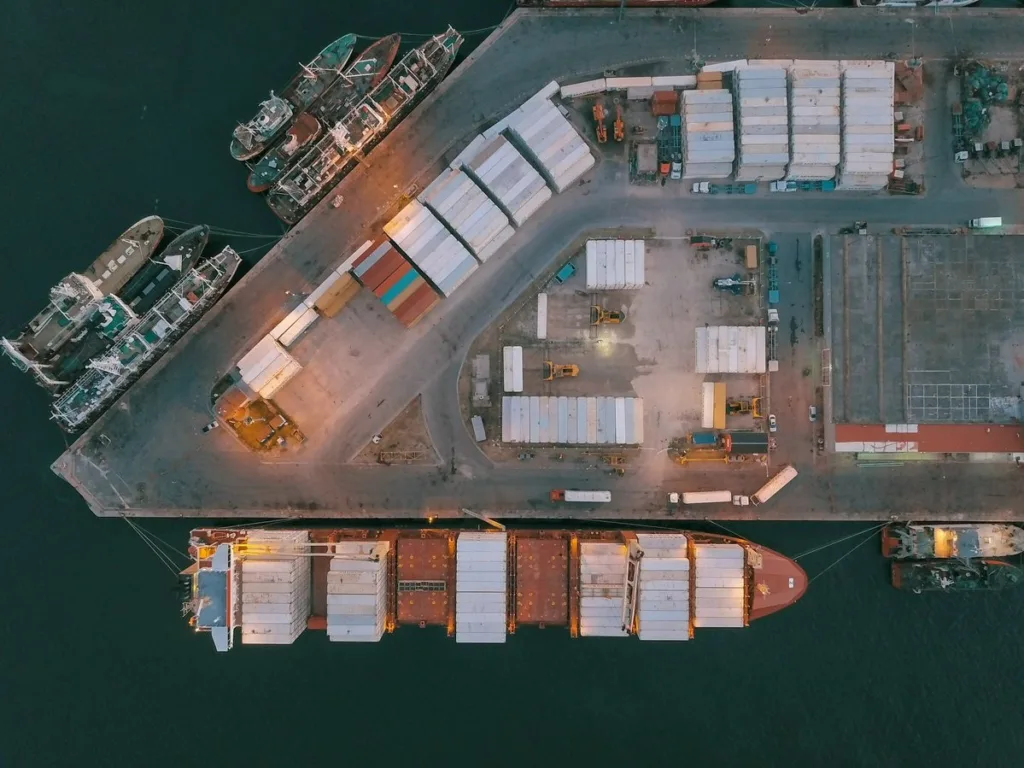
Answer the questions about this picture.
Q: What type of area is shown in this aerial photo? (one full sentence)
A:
The area seen from above is a port.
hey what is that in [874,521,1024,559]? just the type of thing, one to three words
boat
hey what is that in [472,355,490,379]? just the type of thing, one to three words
house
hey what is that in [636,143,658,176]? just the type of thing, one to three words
shed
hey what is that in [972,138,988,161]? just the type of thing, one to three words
vehicle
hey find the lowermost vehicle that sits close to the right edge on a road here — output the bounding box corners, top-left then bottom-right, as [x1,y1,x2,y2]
[967,215,1006,228]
